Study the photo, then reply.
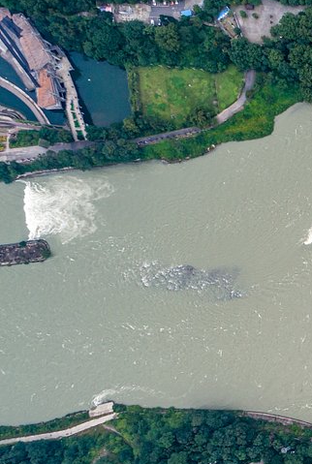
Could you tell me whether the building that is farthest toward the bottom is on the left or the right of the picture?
left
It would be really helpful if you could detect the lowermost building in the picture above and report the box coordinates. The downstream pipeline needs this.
[34,66,68,111]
